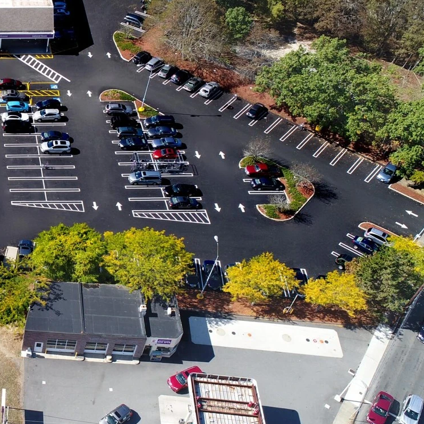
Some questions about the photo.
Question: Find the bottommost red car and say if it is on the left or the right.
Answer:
right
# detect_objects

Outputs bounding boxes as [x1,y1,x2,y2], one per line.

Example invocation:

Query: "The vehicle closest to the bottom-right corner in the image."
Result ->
[396,391,424,424]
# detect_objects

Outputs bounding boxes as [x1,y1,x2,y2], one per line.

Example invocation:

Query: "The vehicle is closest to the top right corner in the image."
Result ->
[374,162,397,184]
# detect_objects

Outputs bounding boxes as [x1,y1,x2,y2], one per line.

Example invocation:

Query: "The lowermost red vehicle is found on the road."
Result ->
[367,389,393,424]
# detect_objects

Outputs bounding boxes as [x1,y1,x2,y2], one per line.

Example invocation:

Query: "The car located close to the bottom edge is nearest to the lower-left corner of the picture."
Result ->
[97,401,136,424]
